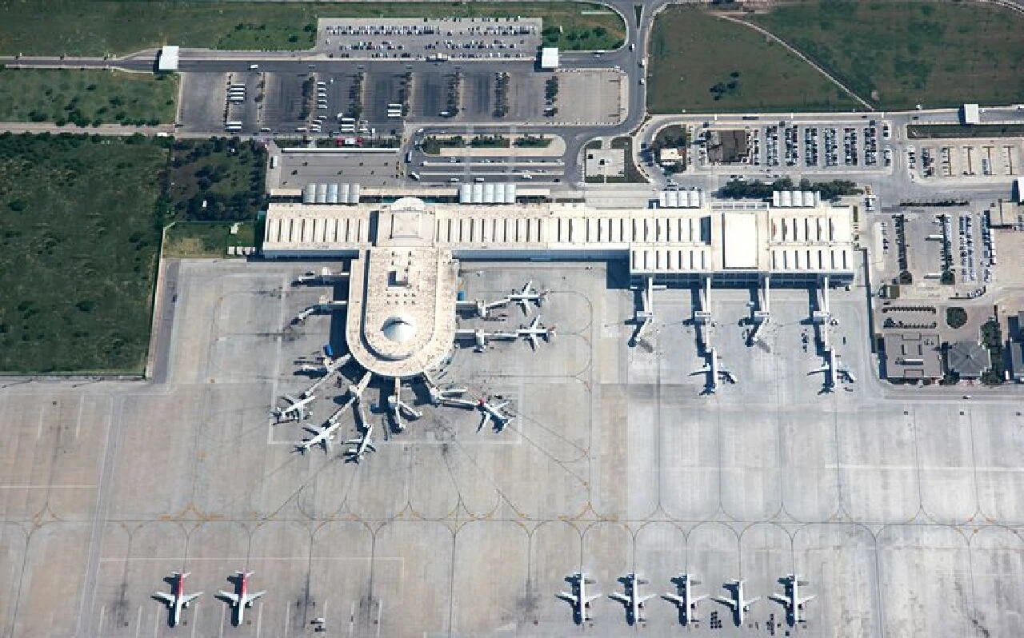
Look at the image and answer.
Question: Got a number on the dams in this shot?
0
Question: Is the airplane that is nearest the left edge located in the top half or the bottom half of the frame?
bottom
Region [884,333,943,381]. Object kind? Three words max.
building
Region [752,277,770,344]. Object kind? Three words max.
jet bridge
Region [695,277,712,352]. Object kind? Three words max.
jet bridge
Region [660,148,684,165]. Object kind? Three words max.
building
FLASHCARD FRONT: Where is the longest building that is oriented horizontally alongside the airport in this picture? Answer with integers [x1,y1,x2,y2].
[261,196,854,281]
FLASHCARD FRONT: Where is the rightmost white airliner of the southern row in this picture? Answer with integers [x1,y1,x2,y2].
[770,574,819,625]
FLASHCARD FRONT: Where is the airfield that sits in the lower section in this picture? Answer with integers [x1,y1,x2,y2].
[0,240,1024,638]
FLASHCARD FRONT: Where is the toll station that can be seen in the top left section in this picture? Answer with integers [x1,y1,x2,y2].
[159,46,180,70]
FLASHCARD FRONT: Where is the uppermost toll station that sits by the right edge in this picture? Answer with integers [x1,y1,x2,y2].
[964,104,979,124]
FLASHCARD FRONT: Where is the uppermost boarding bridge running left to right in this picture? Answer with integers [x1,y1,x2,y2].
[296,267,350,283]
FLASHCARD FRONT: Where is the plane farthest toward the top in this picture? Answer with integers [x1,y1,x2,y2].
[512,280,548,315]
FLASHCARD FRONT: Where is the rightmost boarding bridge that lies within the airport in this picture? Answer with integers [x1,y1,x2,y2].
[813,277,830,352]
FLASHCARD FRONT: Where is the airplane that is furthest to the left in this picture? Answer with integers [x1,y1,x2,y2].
[155,573,204,624]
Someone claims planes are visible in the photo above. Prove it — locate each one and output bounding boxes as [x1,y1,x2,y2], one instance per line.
[218,573,267,624]
[521,316,555,351]
[665,575,713,625]
[770,574,819,625]
[479,393,514,427]
[810,349,856,389]
[512,280,548,315]
[345,427,382,459]
[559,574,607,625]
[612,572,660,624]
[155,573,204,624]
[716,581,765,627]
[277,390,315,423]
[300,419,339,453]
[690,349,737,390]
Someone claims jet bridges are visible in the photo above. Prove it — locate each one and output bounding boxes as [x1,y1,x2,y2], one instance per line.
[301,355,353,396]
[458,296,513,319]
[752,277,770,344]
[813,277,830,352]
[295,296,348,321]
[387,380,423,431]
[328,372,374,430]
[456,328,521,348]
[424,372,481,407]
[695,277,712,352]
[635,277,654,345]
[296,267,350,283]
